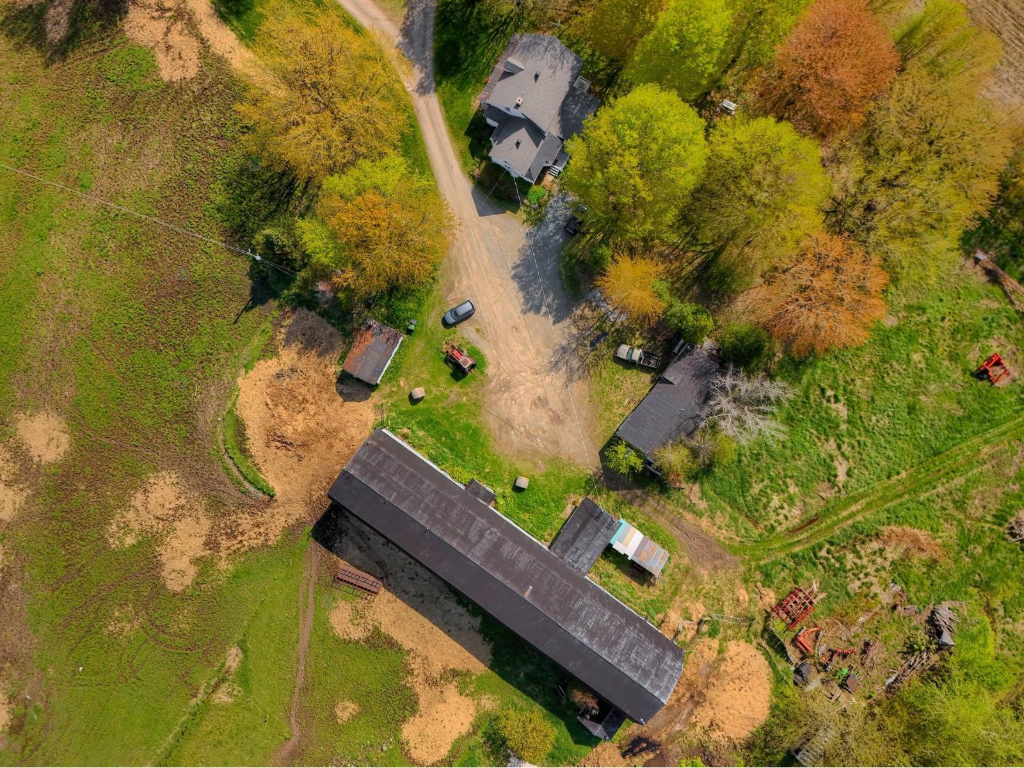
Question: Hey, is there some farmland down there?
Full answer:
Yes, some farmland is visible.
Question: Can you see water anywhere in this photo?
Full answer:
No, water can't be seen anywhere here.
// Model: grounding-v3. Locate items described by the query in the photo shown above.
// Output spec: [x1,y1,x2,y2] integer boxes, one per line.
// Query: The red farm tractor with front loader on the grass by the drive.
[440,341,474,373]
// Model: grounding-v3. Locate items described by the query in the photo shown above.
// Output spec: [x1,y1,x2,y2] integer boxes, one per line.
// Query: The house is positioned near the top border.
[478,32,598,196]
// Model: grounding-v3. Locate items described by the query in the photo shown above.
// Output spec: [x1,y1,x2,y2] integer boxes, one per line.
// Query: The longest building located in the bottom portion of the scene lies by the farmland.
[328,428,686,722]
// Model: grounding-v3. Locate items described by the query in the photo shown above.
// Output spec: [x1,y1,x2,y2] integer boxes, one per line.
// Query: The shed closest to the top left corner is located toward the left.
[342,318,403,386]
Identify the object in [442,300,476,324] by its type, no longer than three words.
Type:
car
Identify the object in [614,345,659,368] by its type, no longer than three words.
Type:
truck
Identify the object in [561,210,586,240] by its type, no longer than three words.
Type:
car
